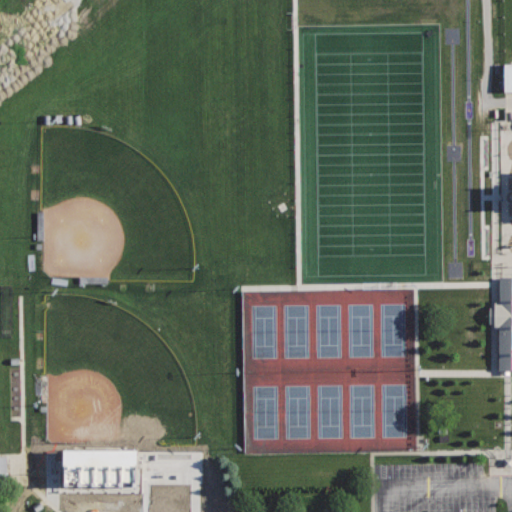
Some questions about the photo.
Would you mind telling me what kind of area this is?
sports ground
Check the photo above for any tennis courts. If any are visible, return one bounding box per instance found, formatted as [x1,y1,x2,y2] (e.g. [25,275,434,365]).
[251,306,278,360]
[284,386,312,440]
[317,385,344,440]
[348,385,376,439]
[382,384,408,439]
[380,304,408,358]
[252,386,279,440]
[315,305,342,359]
[348,304,374,359]
[284,305,311,360]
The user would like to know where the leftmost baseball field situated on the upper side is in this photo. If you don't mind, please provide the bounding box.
[42,126,194,282]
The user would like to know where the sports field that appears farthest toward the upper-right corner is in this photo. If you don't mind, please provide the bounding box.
[300,24,444,284]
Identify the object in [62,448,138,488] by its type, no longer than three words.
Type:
building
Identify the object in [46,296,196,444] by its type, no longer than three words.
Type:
baseball field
